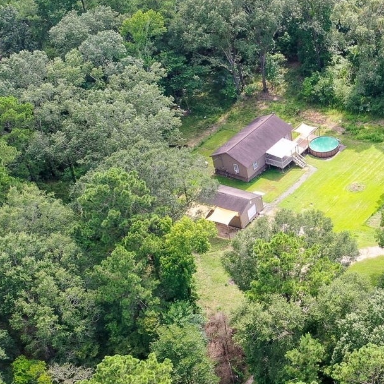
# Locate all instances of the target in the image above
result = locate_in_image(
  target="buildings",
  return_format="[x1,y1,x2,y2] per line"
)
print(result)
[210,114,308,183]
[191,180,263,226]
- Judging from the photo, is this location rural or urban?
rural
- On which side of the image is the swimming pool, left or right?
right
